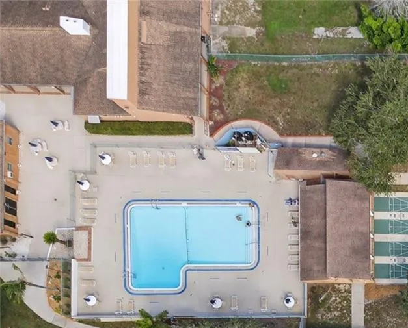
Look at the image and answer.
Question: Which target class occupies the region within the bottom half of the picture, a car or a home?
home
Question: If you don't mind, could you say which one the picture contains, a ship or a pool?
pool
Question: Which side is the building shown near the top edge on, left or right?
left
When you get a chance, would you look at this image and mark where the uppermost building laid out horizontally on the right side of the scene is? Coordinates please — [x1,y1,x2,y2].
[275,148,352,180]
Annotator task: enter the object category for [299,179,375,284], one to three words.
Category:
house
